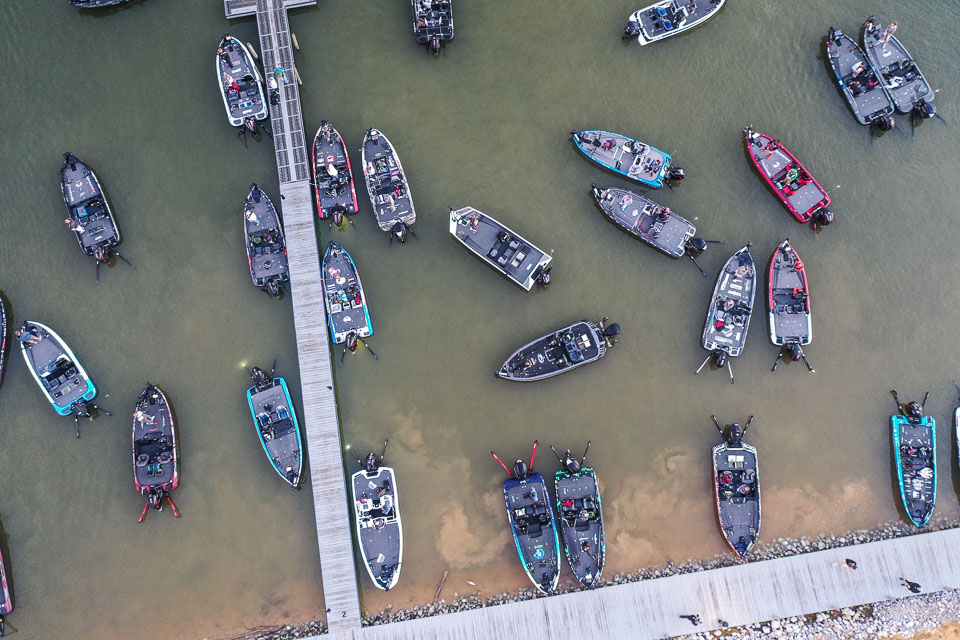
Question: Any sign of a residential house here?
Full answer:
No, no residential house can be seen from above.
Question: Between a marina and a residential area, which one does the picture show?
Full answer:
This image shows a marina.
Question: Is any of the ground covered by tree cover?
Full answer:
No, tree cover can't be seen anywhere here.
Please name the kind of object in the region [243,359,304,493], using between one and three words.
boat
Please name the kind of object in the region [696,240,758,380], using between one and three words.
boat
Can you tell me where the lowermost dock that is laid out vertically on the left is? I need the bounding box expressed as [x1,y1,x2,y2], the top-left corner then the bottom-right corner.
[280,180,364,634]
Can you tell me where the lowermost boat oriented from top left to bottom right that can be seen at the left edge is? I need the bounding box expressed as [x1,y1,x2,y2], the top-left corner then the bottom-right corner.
[18,318,112,438]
